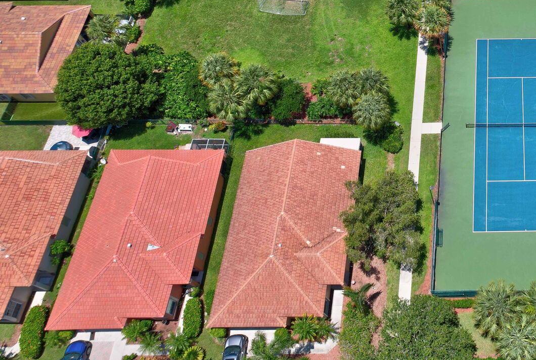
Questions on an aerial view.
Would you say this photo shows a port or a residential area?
residential area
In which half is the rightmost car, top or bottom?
bottom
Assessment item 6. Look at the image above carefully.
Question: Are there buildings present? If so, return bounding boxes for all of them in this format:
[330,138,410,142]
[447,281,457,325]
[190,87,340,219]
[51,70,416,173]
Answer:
[0,151,92,321]
[46,149,227,332]
[0,1,93,100]
[205,137,362,329]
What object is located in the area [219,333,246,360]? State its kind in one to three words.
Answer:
car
